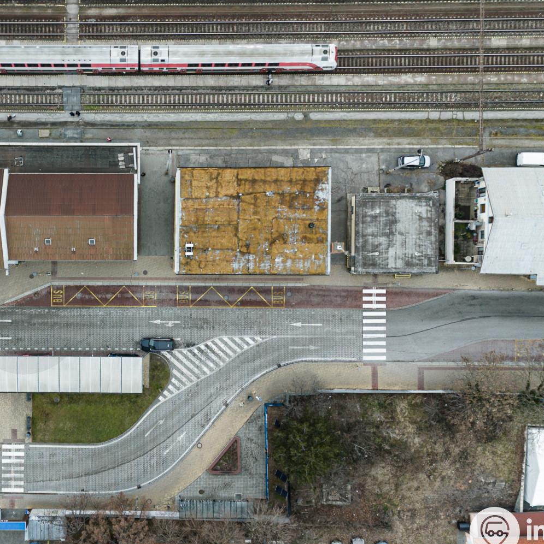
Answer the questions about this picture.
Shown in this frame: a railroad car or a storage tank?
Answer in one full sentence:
I can see a railroad car in this picture.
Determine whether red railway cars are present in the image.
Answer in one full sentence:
No, no red railway car can be seen from above.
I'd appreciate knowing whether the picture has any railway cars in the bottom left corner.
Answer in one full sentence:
No, no railway car is visible in the bottom left corner.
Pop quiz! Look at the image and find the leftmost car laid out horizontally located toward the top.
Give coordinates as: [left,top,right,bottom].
[396,154,429,170]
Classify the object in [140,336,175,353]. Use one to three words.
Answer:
car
